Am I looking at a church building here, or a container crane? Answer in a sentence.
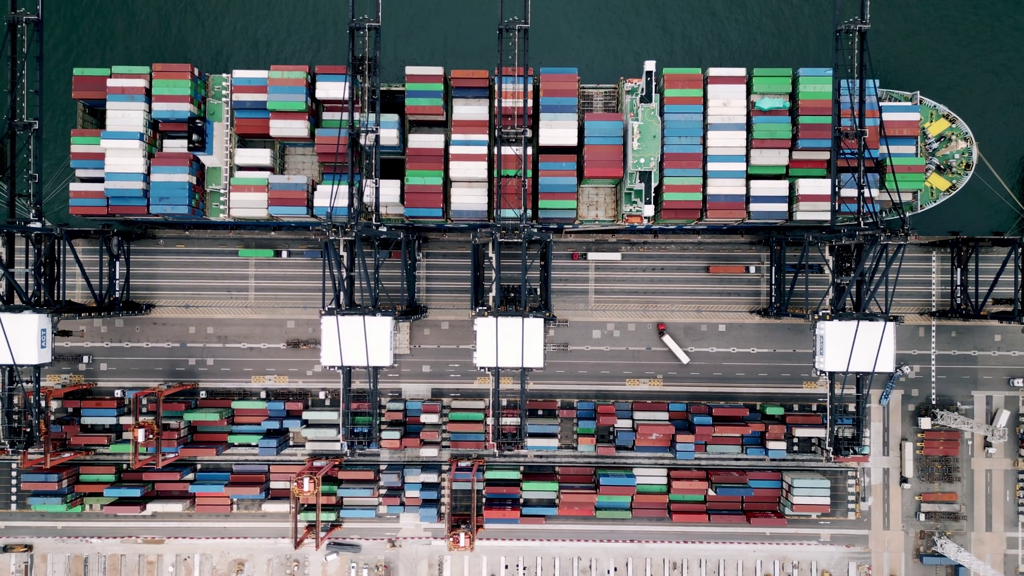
This aerial view contains a container crane.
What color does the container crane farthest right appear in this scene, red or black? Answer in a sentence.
From above, the container crane farthest right appears black.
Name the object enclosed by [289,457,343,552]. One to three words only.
container crane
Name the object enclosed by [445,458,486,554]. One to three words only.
container crane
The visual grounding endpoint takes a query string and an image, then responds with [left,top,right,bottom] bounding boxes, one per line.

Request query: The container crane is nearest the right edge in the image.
[920,223,1024,318]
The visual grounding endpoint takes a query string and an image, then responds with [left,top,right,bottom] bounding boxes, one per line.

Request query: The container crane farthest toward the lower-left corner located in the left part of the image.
[19,379,96,468]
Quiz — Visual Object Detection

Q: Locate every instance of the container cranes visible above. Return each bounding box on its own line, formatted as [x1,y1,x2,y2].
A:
[289,457,343,552]
[468,0,552,466]
[130,380,197,469]
[445,458,486,554]
[0,0,149,461]
[319,0,429,464]
[920,223,1024,318]
[750,0,917,469]
[19,379,96,468]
